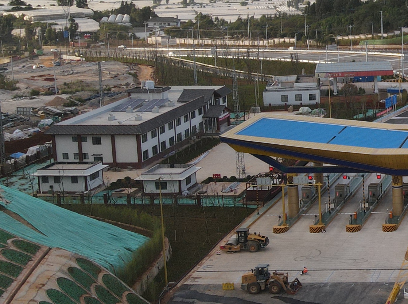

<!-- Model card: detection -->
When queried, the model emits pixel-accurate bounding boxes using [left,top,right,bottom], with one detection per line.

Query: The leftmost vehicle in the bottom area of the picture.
[212,226,276,254]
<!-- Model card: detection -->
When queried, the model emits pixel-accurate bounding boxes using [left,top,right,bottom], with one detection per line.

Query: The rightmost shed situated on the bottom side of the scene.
[228,171,292,206]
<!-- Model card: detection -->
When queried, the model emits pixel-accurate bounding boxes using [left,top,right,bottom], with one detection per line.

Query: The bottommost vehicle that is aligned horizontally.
[238,261,314,294]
